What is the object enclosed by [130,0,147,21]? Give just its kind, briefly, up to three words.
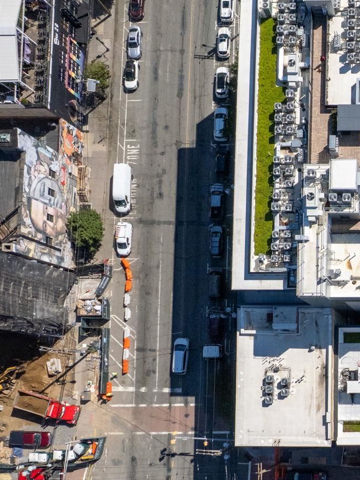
car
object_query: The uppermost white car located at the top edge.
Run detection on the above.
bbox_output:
[218,0,234,27]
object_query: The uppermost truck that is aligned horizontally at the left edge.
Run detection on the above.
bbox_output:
[7,392,79,422]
